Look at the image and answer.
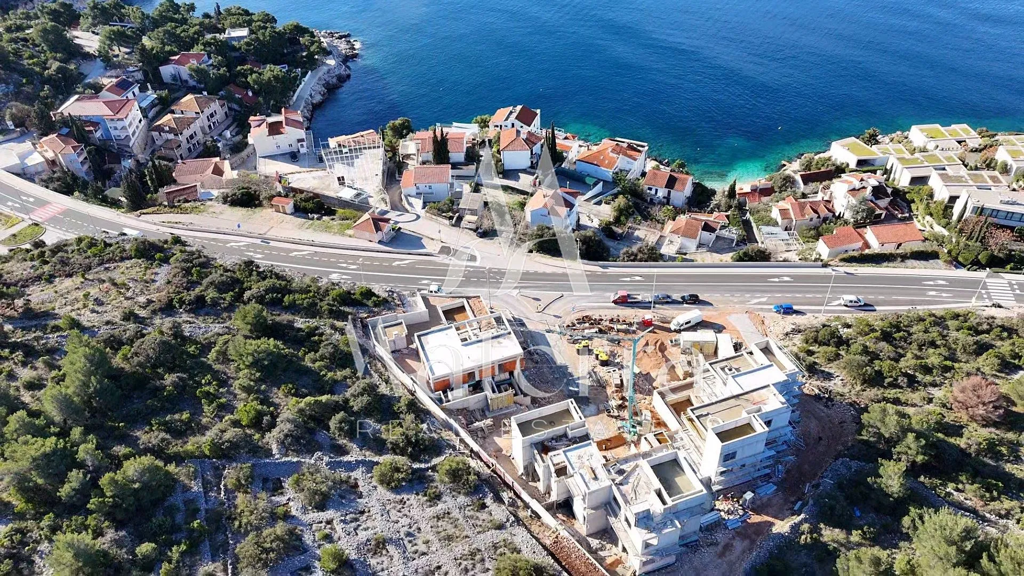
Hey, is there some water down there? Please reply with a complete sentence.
Yes, there's water in this view.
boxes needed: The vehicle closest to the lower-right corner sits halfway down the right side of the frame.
[839,294,867,307]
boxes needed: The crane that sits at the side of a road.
[520,325,663,440]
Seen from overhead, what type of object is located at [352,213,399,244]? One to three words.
house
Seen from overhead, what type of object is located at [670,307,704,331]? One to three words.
vehicle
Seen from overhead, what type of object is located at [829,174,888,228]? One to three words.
house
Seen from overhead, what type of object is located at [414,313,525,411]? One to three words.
building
